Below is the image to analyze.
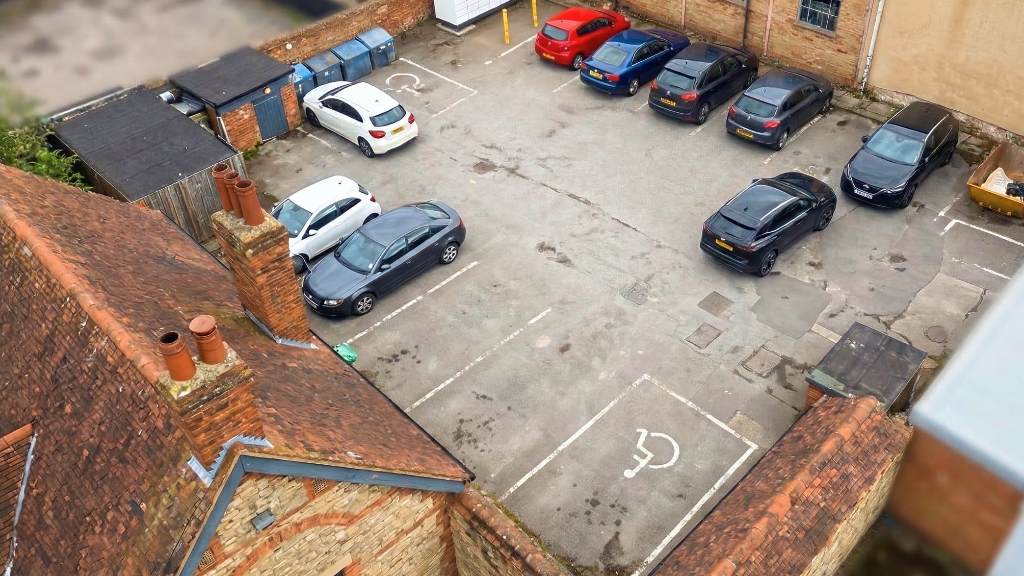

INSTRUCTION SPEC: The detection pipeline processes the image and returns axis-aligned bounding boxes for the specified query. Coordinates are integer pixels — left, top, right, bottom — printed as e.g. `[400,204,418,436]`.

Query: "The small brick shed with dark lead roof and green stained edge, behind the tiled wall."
[799,320,932,426]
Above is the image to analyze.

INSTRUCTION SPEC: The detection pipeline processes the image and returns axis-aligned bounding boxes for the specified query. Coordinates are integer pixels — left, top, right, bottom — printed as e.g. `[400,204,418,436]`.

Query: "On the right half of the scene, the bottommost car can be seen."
[690,168,838,280]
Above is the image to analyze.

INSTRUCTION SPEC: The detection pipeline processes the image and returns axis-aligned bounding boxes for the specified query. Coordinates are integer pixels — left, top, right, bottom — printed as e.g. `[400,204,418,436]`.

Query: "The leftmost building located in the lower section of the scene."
[0,164,487,576]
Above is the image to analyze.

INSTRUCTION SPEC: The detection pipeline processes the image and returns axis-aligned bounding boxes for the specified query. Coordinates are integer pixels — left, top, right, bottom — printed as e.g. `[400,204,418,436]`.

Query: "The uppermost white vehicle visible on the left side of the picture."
[300,83,418,161]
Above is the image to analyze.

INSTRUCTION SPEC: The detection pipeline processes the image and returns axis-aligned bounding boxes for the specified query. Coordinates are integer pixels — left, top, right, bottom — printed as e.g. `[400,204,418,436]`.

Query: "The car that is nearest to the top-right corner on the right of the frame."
[835,98,966,209]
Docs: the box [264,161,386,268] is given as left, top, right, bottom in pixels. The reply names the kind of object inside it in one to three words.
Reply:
car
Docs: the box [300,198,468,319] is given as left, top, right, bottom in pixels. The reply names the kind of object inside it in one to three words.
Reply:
car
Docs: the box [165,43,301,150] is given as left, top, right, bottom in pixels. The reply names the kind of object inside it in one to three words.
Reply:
shed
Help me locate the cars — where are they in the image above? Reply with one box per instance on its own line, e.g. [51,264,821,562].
[645,43,762,124]
[300,83,418,161]
[575,24,694,96]
[529,6,631,71]
[690,168,838,280]
[300,198,468,319]
[835,98,966,209]
[264,161,386,268]
[722,68,838,150]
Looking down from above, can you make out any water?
No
